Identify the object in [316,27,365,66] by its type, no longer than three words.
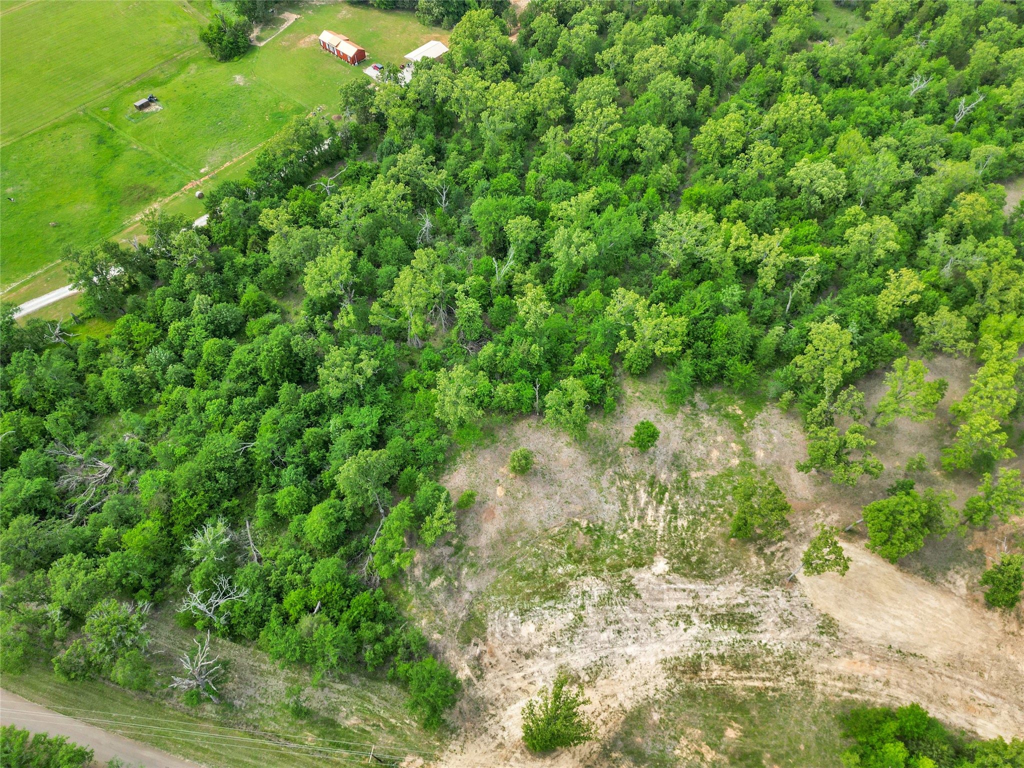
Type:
building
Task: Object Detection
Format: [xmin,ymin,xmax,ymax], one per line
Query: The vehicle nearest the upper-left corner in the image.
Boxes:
[144,90,165,103]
